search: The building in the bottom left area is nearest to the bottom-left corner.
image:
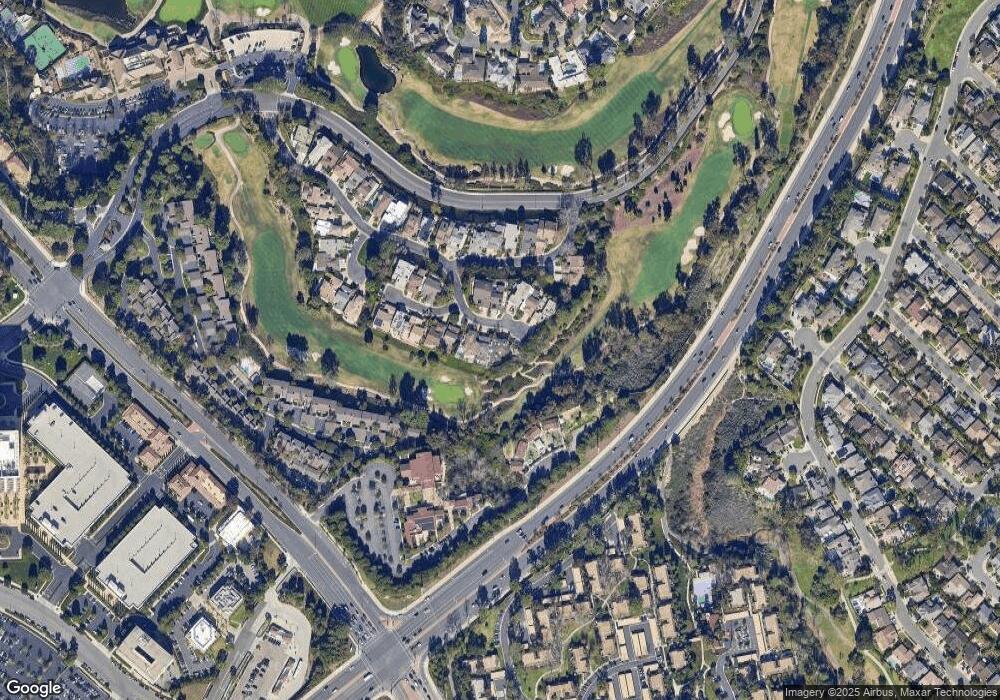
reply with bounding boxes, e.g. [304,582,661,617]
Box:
[116,626,175,684]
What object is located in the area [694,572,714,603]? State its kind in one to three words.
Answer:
sports court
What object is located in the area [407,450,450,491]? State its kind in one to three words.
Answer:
building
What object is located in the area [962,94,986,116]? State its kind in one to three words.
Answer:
house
